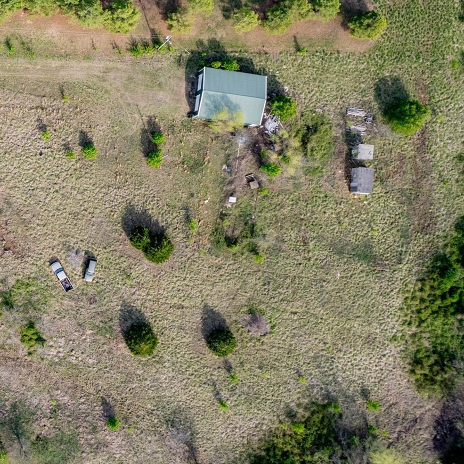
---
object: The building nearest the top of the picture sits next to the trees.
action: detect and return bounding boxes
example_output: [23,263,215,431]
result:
[192,67,268,126]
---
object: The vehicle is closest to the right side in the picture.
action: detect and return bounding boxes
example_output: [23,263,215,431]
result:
[84,257,97,282]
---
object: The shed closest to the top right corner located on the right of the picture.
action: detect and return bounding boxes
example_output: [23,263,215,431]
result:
[345,144,373,160]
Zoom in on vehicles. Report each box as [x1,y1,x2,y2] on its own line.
[84,257,97,282]
[50,261,74,293]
